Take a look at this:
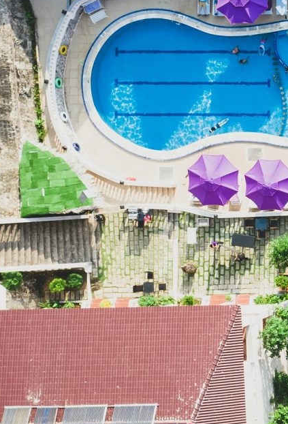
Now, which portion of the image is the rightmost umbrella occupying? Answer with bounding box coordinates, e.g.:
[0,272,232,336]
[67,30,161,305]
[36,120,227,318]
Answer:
[248,160,288,209]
